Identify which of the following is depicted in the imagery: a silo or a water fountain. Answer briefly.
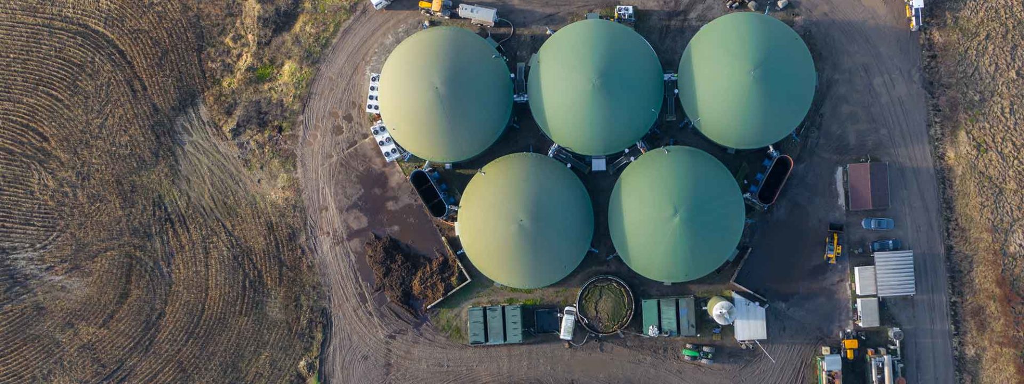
silo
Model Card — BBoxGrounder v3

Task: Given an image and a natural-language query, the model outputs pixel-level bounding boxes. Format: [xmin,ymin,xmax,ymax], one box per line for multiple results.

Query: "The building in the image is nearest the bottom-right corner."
[856,296,880,327]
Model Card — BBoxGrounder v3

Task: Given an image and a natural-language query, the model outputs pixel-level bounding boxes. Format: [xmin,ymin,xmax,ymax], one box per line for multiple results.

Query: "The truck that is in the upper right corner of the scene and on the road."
[901,0,924,34]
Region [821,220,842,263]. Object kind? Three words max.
work vehicle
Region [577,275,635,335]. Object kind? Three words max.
storage tank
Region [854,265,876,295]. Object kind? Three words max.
building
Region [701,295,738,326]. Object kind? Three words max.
silo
